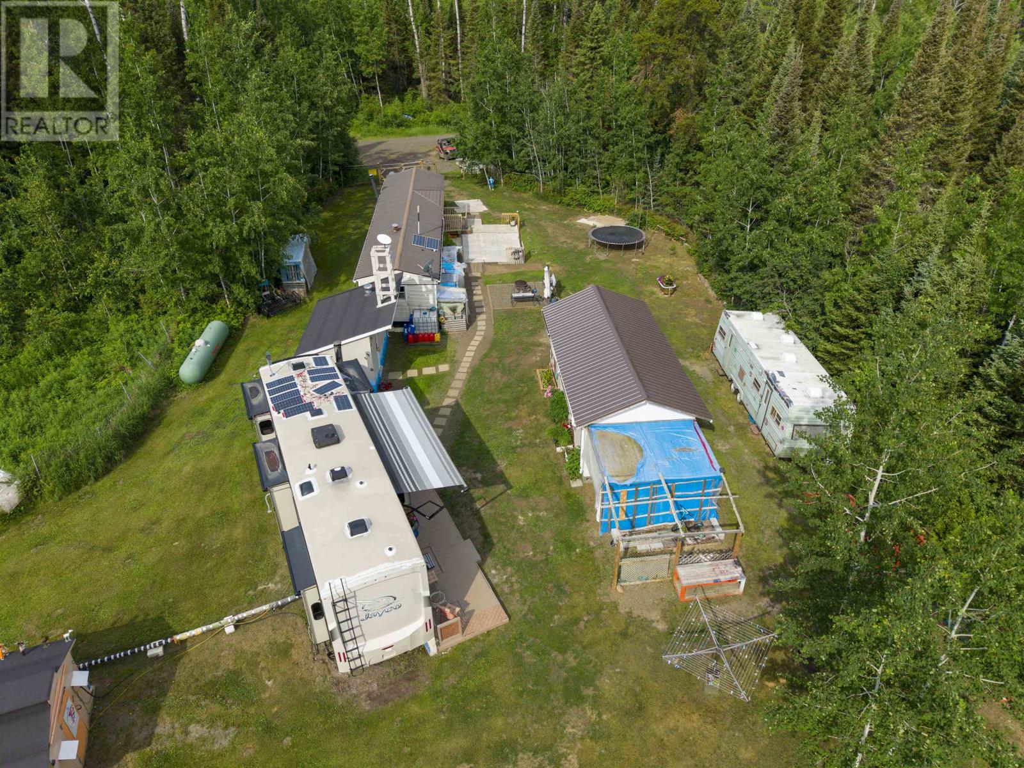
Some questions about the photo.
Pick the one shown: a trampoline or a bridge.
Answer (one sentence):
Of the two, only a trampoline appears.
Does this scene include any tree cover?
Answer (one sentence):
Yes, tree cover shows up in the scene.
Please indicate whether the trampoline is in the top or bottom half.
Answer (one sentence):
The trampoline is in the top half of the image.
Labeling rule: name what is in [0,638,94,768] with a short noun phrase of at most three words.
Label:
shed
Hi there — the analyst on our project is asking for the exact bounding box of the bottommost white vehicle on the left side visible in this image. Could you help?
[240,342,469,682]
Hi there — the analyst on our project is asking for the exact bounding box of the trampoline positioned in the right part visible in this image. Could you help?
[587,227,647,264]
